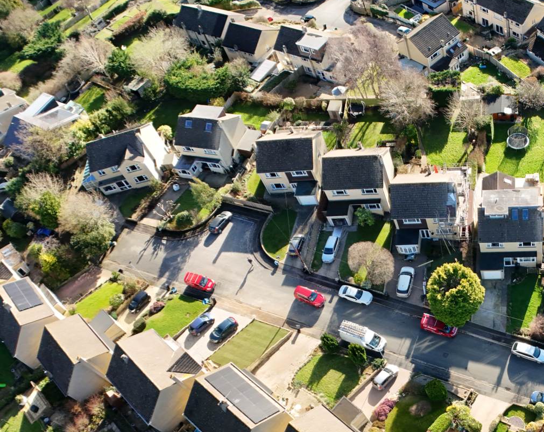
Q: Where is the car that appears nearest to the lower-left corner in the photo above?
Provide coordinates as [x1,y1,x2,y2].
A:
[128,292,151,314]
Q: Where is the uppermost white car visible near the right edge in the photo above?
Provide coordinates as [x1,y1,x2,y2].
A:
[510,340,544,364]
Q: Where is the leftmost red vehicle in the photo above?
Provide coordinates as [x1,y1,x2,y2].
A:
[180,268,218,293]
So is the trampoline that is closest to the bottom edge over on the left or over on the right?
right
